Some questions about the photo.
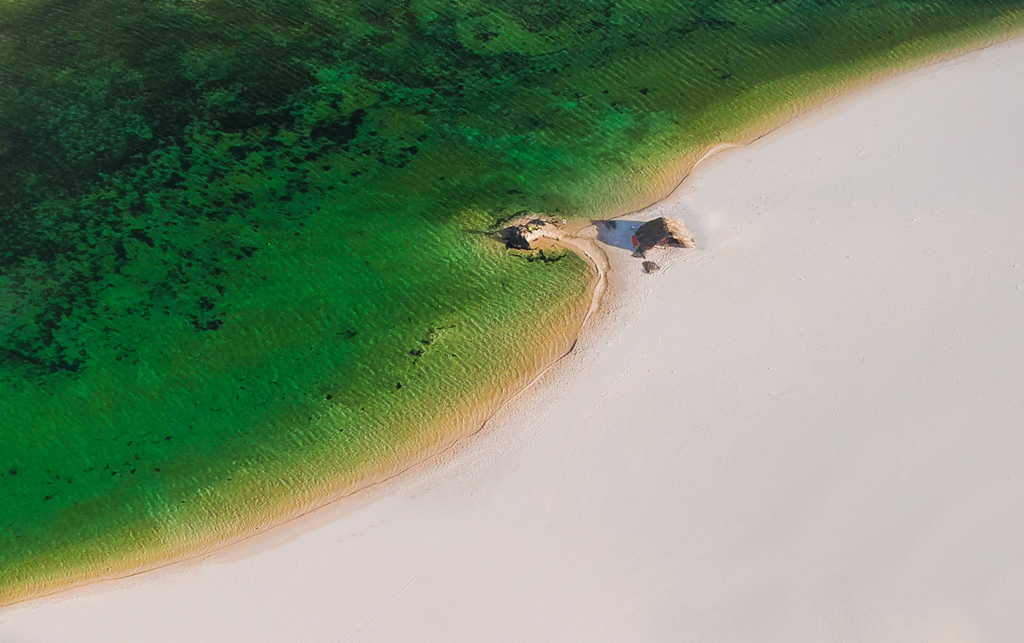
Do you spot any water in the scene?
Yes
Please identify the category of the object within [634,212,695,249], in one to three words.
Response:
shed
